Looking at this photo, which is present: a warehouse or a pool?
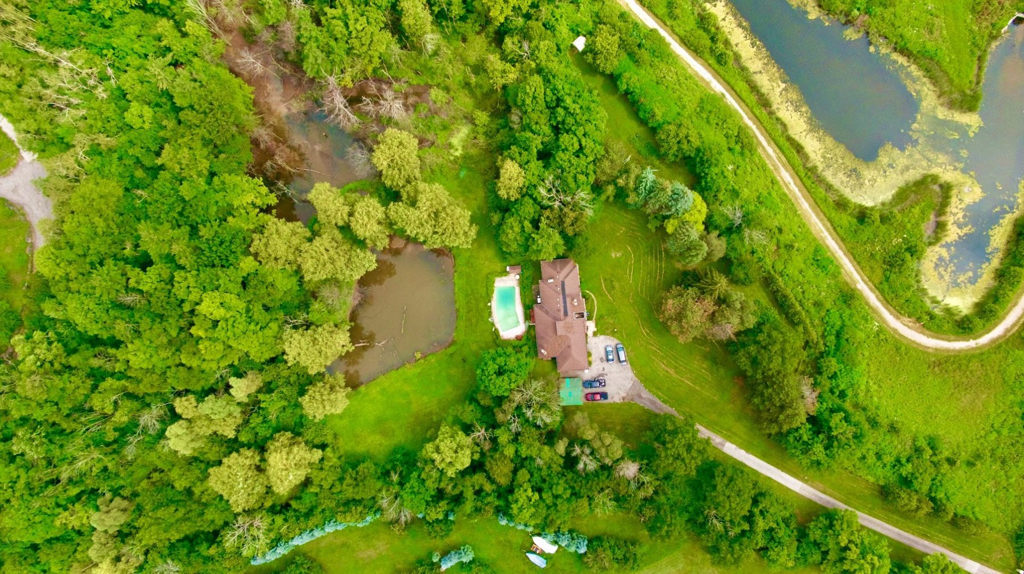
pool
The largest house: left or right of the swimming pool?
right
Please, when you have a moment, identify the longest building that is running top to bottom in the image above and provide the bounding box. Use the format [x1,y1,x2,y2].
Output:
[533,258,590,372]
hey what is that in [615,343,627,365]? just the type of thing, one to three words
vehicle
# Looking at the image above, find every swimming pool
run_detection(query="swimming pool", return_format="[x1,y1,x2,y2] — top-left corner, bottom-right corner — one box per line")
[491,274,526,339]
